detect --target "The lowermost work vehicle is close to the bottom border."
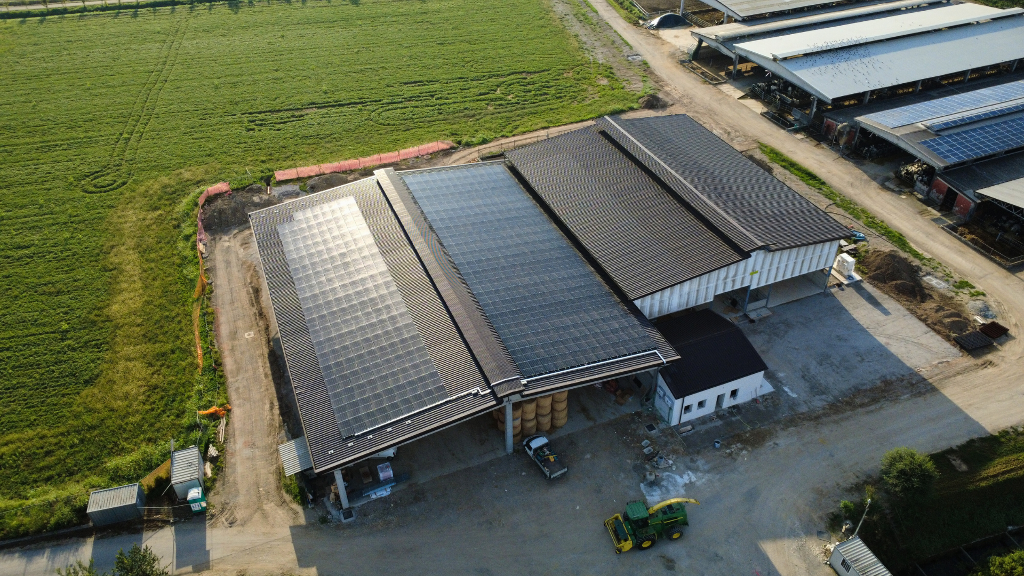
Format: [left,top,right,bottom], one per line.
[604,498,705,560]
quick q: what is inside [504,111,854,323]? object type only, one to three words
barn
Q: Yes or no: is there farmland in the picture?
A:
Yes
